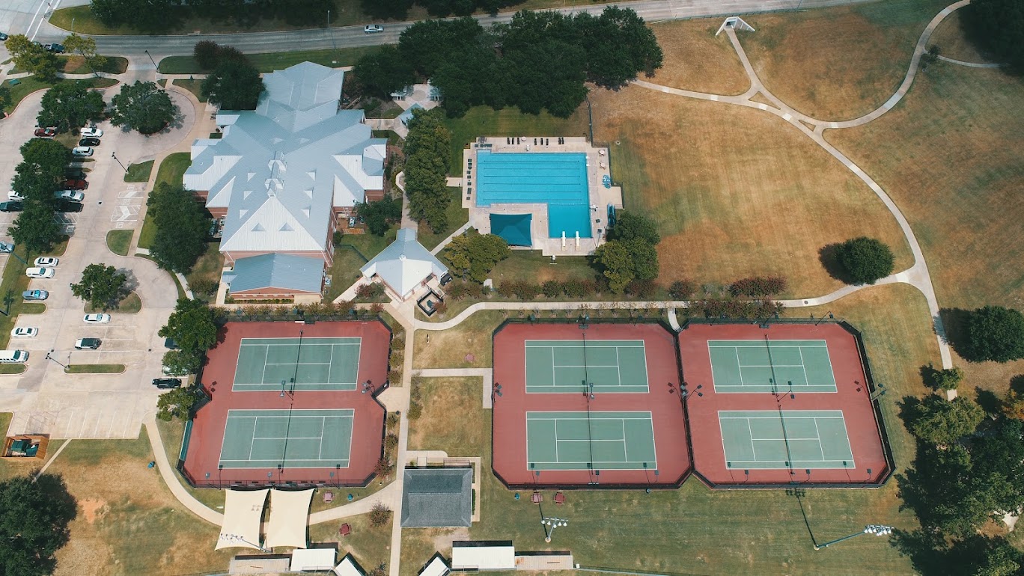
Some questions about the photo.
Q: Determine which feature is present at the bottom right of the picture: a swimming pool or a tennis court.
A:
tennis court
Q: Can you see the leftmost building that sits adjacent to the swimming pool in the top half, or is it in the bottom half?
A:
top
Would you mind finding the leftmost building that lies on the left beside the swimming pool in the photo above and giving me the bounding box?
[184,60,390,300]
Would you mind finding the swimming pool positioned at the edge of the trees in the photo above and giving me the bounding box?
[462,136,623,256]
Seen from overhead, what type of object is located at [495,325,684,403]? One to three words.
tennis court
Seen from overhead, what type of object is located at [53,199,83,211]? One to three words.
vehicle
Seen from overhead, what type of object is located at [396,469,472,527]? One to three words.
building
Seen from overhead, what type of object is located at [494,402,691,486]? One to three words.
tennis court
